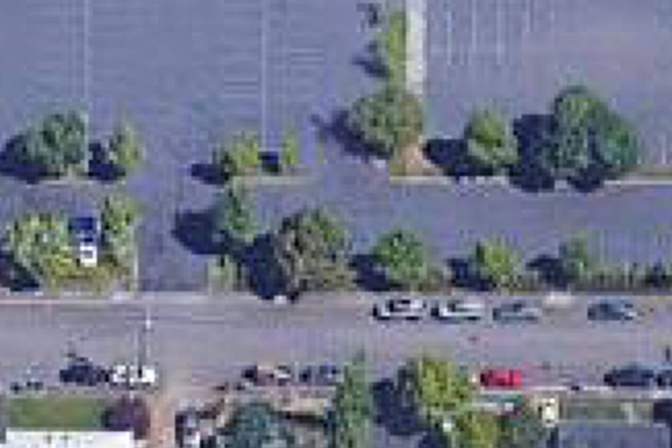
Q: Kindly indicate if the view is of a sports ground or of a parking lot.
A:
parking lot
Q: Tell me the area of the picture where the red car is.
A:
bottom right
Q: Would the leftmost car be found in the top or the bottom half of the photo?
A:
bottom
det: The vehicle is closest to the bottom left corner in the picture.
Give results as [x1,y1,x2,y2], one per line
[59,360,111,385]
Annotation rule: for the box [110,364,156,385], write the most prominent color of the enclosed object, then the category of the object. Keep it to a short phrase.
white car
